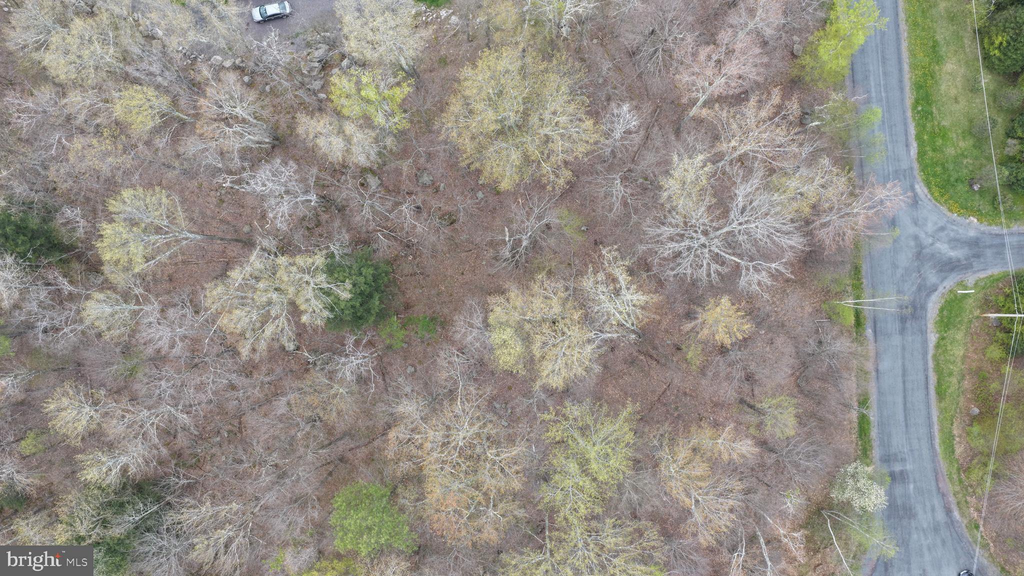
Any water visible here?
No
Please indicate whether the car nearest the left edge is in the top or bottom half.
top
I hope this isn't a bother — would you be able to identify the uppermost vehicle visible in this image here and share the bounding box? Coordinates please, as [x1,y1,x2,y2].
[251,1,292,24]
